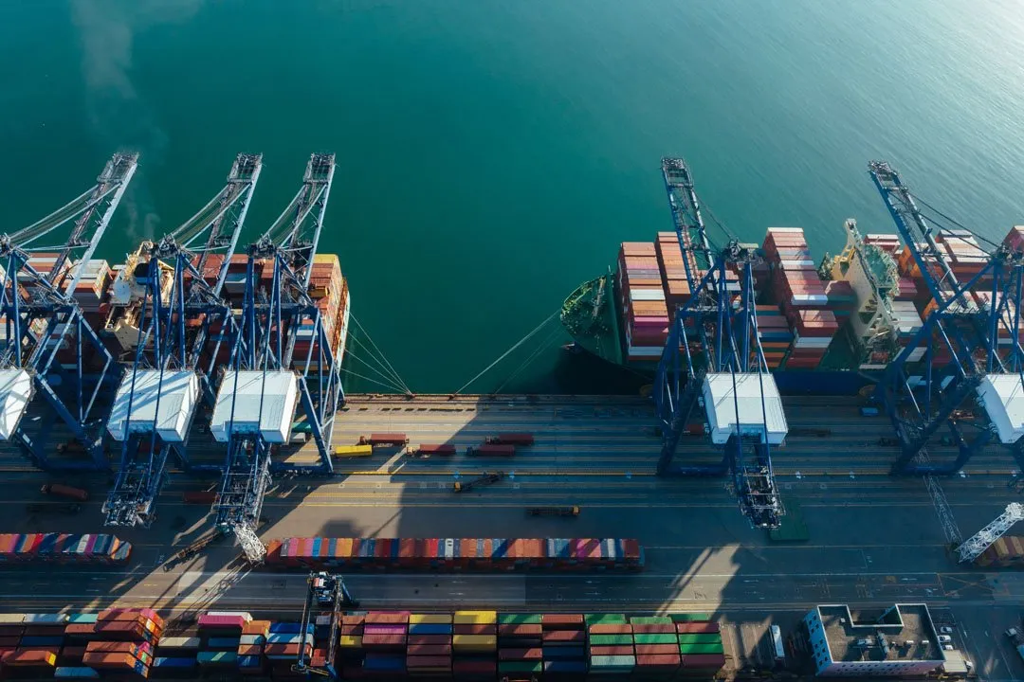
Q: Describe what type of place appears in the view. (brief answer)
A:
port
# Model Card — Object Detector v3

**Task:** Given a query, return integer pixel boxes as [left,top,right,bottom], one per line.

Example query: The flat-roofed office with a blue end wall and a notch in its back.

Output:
[804,604,947,674]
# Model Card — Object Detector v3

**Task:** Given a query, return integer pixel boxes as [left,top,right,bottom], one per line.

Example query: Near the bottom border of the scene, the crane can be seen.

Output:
[286,571,362,682]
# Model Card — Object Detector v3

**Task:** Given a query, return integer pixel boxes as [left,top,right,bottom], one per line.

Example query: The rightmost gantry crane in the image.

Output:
[859,153,1024,484]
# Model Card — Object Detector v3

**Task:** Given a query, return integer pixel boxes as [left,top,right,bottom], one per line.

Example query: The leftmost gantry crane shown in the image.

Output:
[0,153,135,473]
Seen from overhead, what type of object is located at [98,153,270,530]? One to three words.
container crane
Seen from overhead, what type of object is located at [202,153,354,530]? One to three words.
container crane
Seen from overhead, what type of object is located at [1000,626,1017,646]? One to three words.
vehicle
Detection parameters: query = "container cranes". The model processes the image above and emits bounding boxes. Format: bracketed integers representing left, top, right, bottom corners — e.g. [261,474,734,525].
[645,153,788,530]
[202,153,354,530]
[0,153,135,473]
[859,153,1024,484]
[98,153,270,530]
[286,571,362,682]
